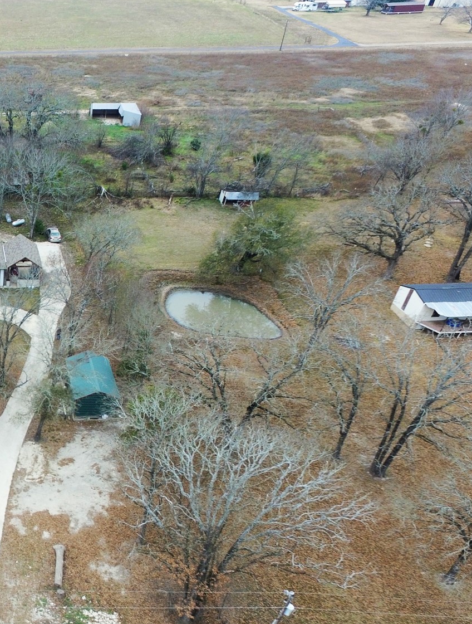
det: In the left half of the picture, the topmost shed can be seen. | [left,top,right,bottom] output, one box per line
[88,96,153,124]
